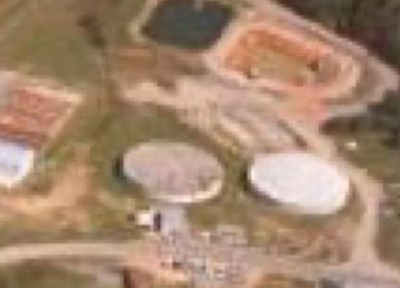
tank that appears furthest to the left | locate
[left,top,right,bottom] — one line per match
[122,140,225,206]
